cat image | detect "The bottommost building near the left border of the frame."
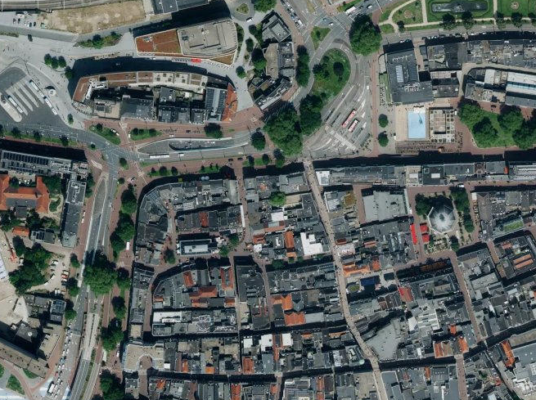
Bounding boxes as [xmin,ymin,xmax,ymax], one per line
[23,353,49,377]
